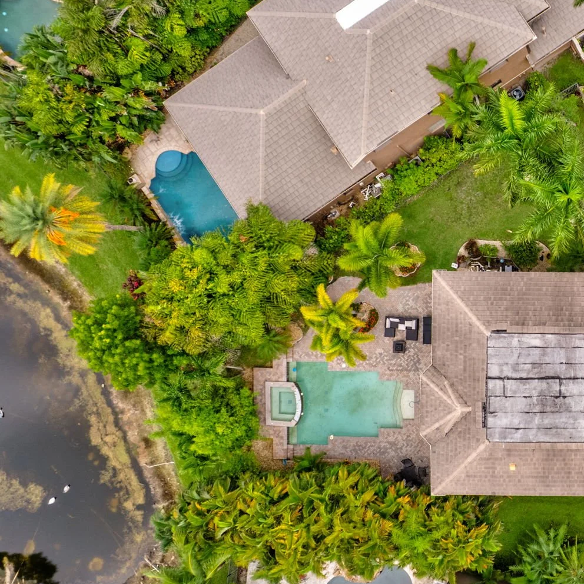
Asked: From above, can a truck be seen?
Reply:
No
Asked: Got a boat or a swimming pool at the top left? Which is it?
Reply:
swimming pool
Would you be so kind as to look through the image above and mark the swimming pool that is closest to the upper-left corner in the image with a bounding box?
[0,0,66,67]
